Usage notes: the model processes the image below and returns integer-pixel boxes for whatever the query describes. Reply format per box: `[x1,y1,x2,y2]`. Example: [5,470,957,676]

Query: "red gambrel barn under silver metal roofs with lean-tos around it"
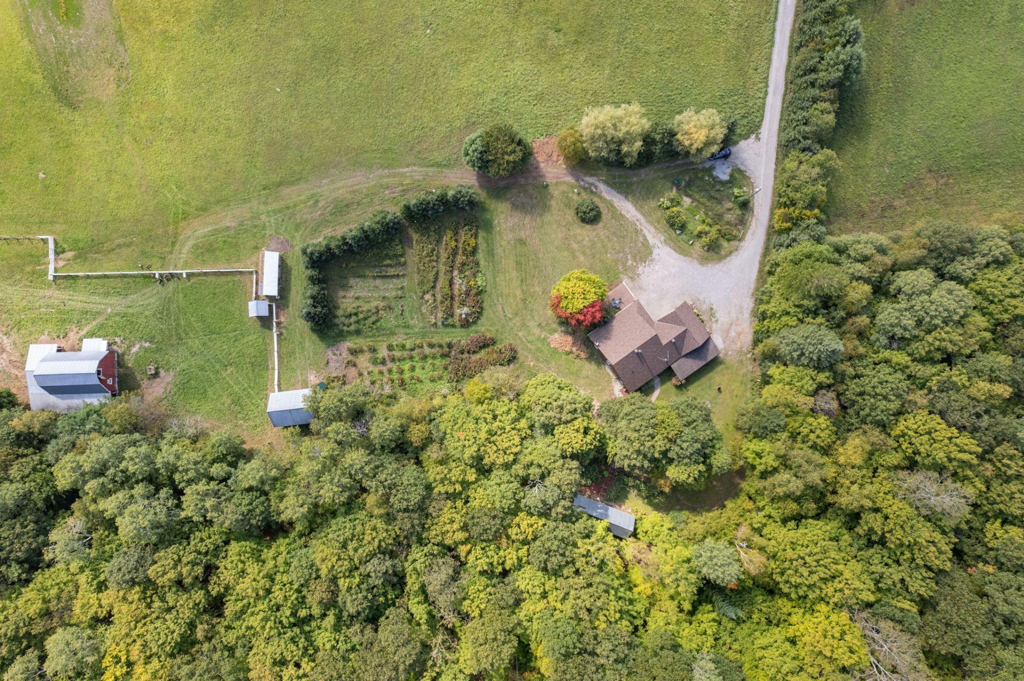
[27,338,118,415]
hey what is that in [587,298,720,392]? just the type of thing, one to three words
house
